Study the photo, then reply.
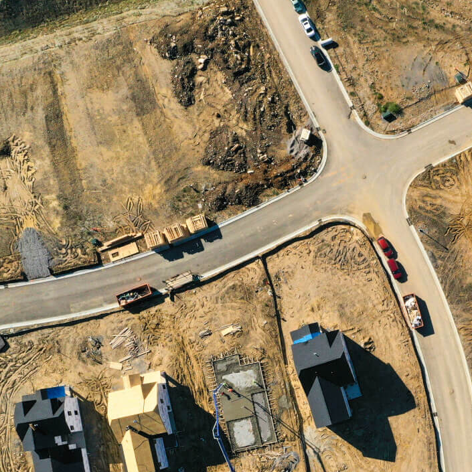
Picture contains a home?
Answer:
Yes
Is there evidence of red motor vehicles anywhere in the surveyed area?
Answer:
Yes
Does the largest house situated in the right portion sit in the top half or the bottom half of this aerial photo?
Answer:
bottom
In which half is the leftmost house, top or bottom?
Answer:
bottom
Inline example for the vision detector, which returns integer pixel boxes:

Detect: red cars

[373,228,393,257]
[387,255,404,284]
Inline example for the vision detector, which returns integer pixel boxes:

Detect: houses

[107,370,174,472]
[12,383,87,472]
[291,320,364,428]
